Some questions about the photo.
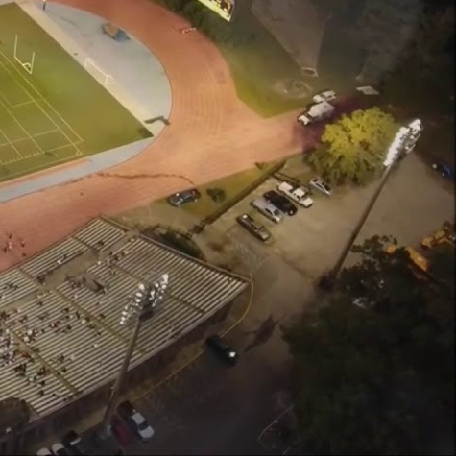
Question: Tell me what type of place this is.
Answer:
sports ground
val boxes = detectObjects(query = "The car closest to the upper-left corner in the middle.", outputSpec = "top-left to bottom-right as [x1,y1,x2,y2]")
[172,187,198,203]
